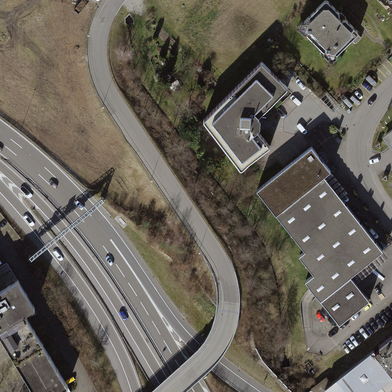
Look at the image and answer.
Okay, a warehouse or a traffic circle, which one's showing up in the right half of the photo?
warehouse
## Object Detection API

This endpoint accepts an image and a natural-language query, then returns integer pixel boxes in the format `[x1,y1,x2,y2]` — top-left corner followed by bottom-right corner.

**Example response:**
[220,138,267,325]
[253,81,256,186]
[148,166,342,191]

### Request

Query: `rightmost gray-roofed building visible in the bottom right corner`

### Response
[370,334,392,378]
